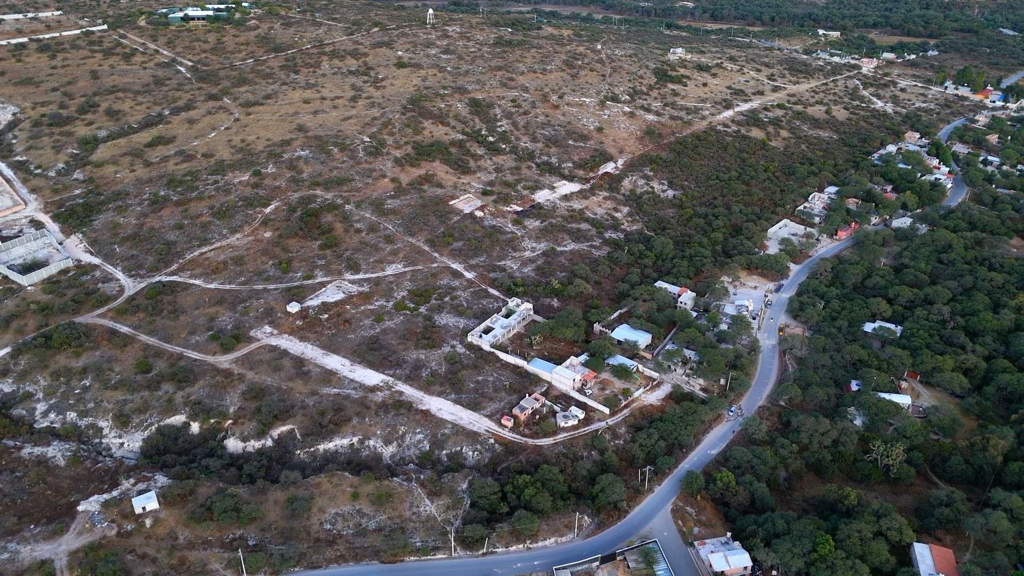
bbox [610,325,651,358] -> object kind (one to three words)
building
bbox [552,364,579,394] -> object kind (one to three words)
house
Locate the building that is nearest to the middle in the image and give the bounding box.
[468,299,535,354]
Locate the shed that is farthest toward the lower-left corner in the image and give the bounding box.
[134,488,163,514]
